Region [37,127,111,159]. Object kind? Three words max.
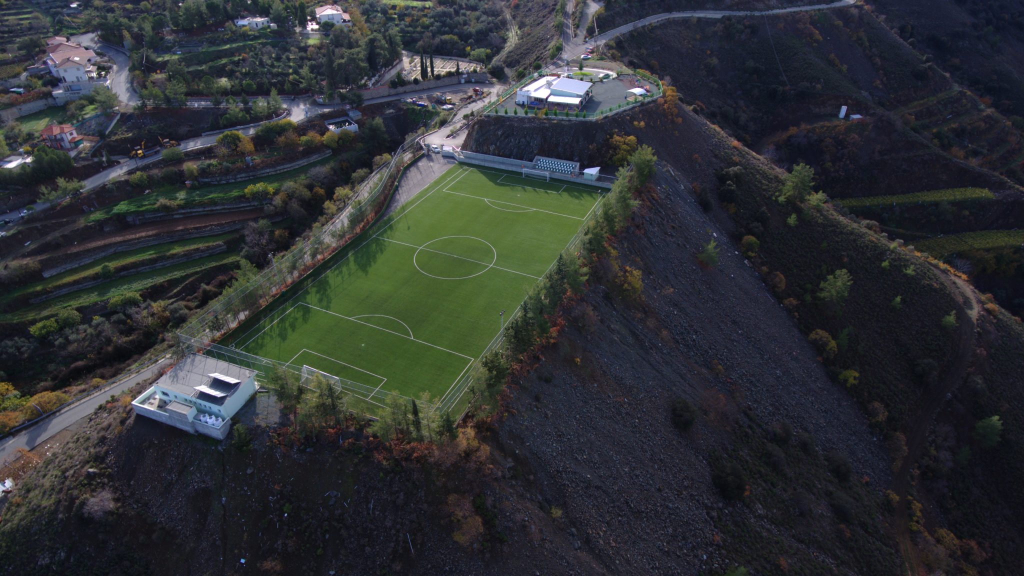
house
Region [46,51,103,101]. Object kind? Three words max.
house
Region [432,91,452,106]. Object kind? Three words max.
vehicle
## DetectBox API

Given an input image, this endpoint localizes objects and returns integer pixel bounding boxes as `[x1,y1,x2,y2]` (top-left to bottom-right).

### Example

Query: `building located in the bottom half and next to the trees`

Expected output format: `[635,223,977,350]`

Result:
[154,352,268,420]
